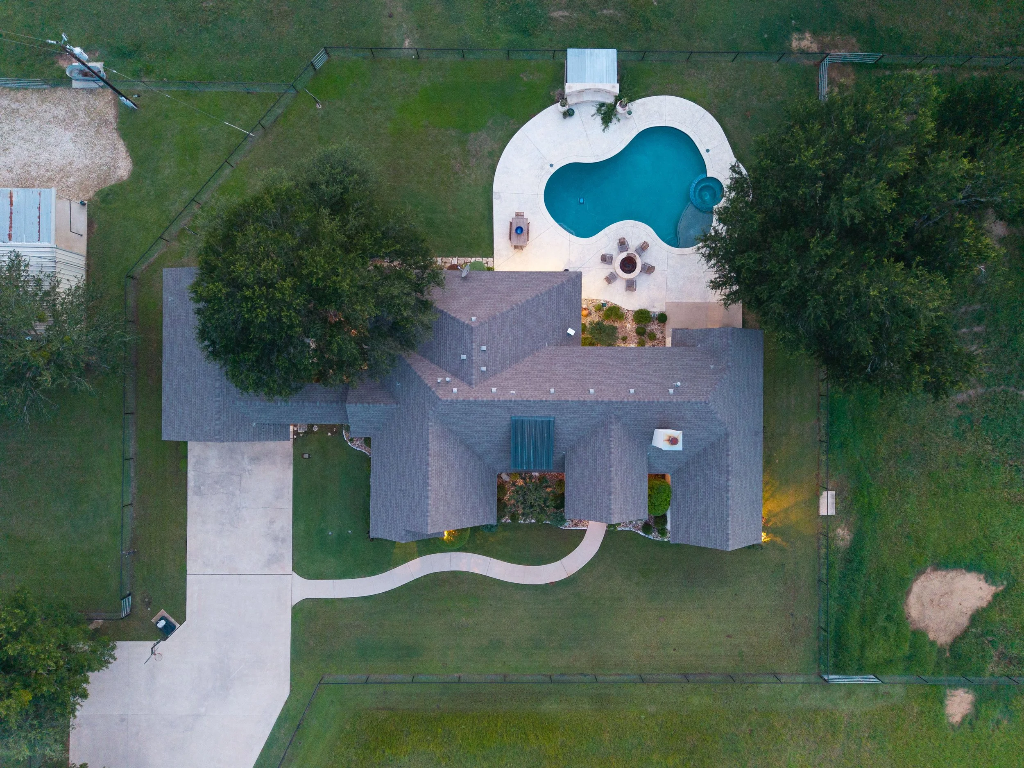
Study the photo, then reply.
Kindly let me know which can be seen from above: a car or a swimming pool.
swimming pool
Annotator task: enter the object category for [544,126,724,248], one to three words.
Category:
swimming pool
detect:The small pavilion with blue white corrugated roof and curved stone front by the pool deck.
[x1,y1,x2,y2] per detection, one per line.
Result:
[563,49,619,107]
